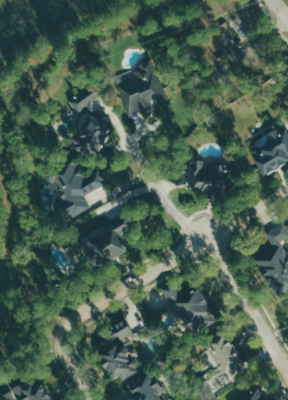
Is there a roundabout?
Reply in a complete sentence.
No, the frame has no roundabout in it.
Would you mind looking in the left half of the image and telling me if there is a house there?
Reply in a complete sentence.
Yes, the scene does show a house in the left half of the image.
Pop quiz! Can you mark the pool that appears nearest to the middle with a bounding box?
[198,144,224,160]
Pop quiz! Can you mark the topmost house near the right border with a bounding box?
[254,126,288,177]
